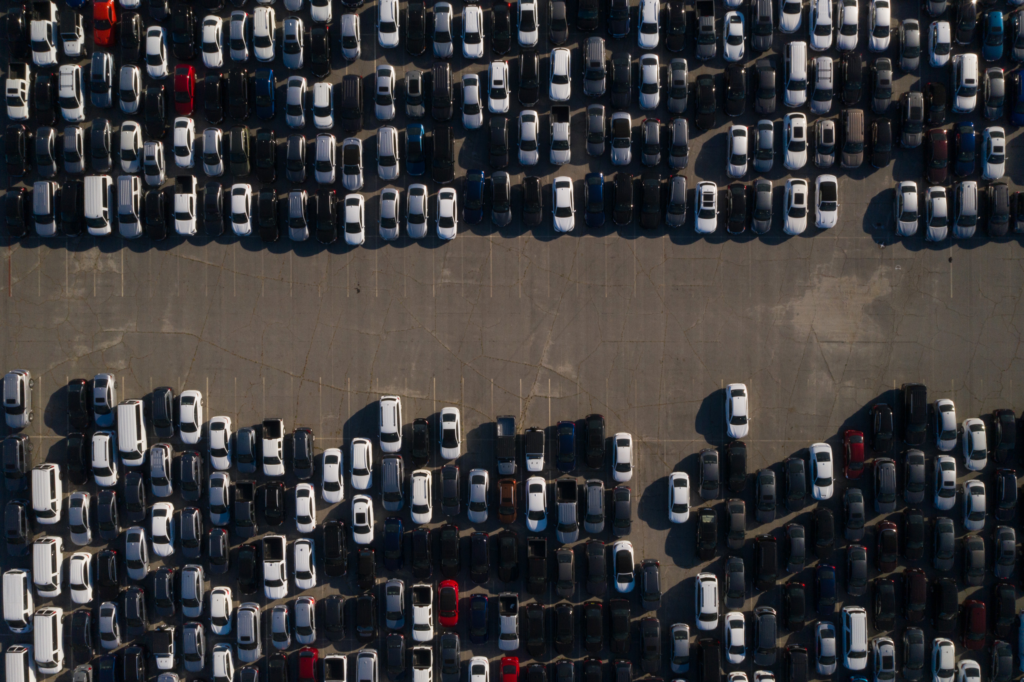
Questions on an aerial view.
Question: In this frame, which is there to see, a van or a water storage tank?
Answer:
van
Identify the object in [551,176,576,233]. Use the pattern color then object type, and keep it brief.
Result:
white car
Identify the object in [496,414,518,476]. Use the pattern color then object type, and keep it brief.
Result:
black truck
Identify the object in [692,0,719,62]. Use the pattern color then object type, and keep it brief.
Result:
black truck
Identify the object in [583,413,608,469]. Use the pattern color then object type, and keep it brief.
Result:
black car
